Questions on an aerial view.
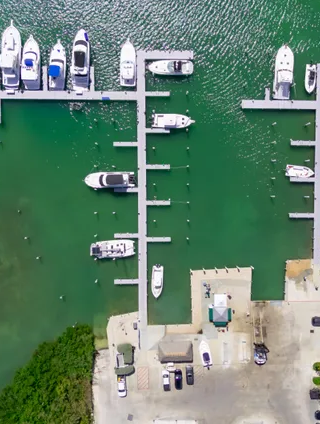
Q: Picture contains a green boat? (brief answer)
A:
No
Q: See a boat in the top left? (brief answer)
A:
Yes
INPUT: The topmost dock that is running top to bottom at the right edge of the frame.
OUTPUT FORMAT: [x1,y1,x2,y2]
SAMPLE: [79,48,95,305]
[241,64,320,259]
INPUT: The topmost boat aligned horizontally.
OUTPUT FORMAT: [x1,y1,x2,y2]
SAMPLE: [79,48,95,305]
[148,59,193,80]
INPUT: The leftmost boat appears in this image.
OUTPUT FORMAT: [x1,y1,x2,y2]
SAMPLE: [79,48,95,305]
[0,15,22,91]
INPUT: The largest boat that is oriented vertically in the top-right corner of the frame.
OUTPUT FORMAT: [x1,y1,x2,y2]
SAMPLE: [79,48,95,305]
[273,41,301,100]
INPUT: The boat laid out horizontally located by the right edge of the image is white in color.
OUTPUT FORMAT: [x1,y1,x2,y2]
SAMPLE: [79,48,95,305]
[284,165,315,177]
